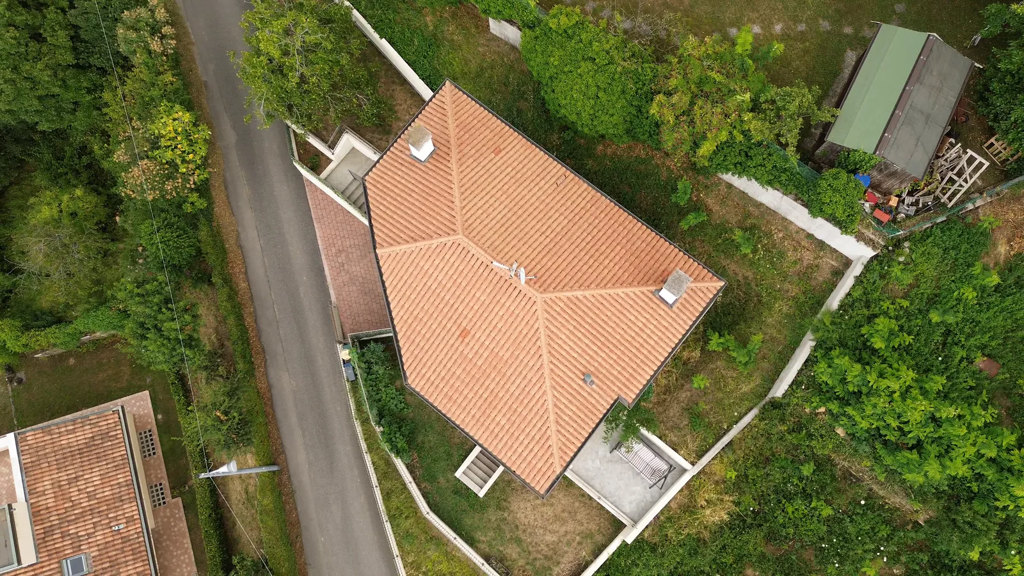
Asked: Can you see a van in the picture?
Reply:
No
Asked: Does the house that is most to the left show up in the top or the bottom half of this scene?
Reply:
bottom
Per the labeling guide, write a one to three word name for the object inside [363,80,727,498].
house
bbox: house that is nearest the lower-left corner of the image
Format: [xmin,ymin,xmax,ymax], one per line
[0,406,170,576]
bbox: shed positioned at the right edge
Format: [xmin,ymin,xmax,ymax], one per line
[813,20,983,191]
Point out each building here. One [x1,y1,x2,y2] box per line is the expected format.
[813,20,983,191]
[0,406,170,576]
[363,80,727,498]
